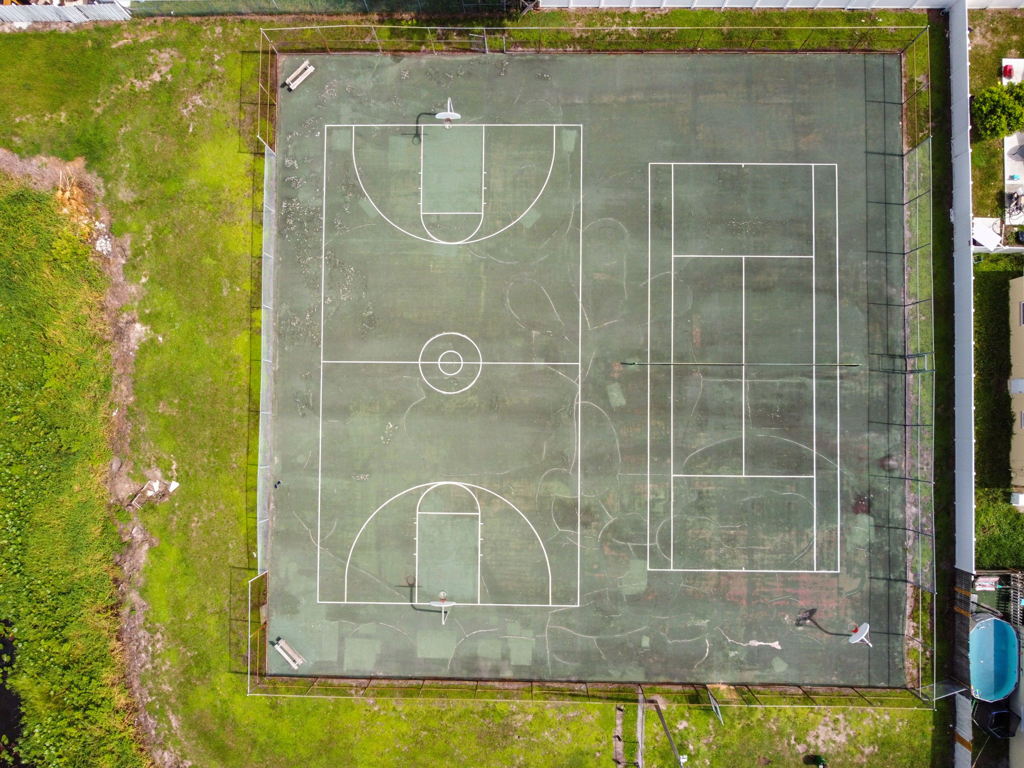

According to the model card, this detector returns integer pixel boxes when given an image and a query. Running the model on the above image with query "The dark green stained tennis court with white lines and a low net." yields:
[647,163,840,572]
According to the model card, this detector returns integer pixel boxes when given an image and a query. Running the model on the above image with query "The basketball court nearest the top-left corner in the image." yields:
[317,124,582,607]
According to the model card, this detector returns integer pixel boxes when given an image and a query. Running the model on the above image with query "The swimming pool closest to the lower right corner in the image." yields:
[957,612,1019,702]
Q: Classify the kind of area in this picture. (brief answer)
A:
sports ground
